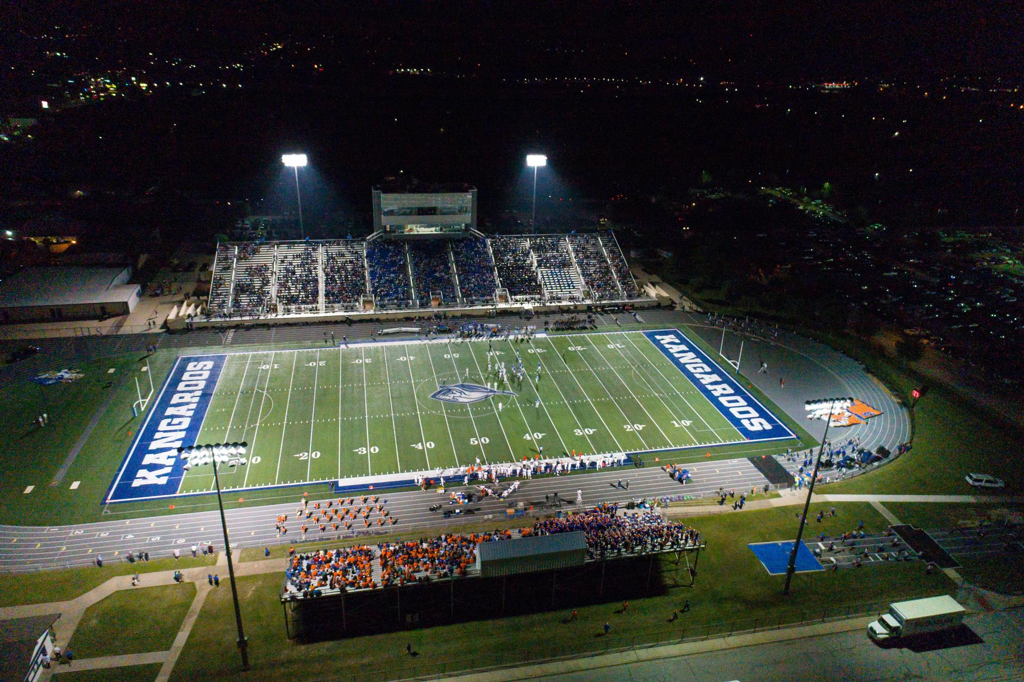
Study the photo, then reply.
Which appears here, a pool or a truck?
truck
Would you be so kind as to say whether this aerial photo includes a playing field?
Yes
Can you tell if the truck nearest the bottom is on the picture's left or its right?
right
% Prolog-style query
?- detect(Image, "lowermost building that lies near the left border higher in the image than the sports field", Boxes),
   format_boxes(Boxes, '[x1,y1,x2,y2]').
[0,266,142,319]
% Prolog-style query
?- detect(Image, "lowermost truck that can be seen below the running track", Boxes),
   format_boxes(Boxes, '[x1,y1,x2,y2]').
[861,593,965,647]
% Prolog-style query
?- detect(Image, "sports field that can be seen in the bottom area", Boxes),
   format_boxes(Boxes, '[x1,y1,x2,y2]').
[67,324,822,523]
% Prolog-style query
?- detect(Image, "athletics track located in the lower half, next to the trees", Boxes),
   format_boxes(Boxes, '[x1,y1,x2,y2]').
[0,311,915,576]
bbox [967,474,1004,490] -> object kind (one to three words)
car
